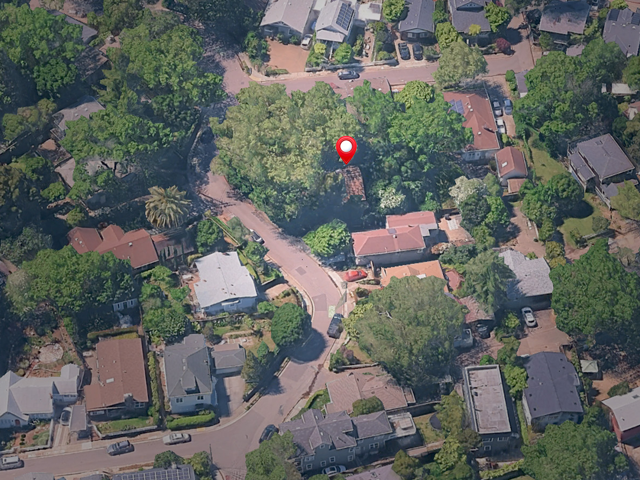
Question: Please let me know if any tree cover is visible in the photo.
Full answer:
Yes, the picture does contain tree cover.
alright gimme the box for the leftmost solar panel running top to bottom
[339,2,354,29]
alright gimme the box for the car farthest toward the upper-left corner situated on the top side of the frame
[300,32,313,50]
